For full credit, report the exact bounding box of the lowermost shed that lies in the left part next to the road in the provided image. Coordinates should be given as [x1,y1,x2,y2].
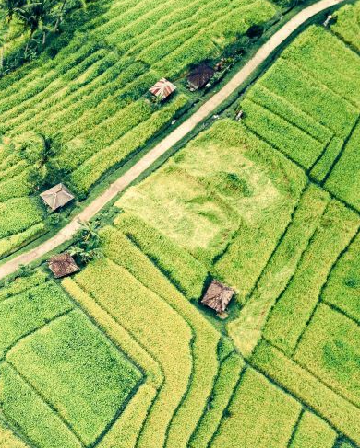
[49,252,80,282]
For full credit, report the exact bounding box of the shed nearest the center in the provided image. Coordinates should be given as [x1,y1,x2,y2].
[201,279,236,315]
